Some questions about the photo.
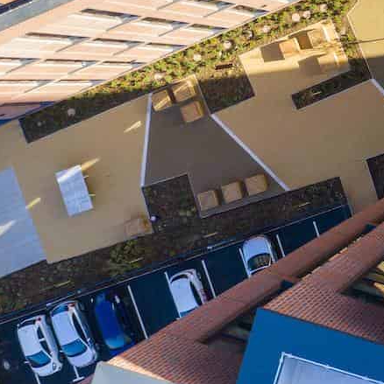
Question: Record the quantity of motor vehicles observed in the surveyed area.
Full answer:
There are 5 motor vehicles in the image.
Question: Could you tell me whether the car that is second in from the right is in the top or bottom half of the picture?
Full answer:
You can find the car that is second in from the right in the bottom half.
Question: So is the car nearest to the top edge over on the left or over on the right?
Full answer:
The car nearest to the top edge appears in the right half of the scene.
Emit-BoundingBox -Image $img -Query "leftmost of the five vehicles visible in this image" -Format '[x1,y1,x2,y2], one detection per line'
[8,315,61,380]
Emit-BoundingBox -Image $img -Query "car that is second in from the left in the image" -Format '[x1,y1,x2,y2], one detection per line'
[43,300,98,372]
